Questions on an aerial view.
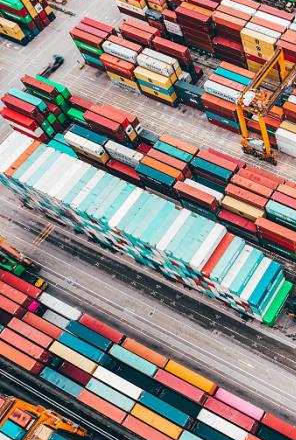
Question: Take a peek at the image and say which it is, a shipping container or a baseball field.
shipping container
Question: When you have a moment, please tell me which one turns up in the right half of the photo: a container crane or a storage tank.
container crane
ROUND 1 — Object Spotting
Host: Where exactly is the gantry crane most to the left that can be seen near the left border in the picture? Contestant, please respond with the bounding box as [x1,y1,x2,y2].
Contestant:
[0,389,98,440]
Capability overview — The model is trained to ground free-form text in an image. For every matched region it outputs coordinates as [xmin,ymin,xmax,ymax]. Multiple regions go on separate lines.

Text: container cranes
[231,45,296,165]
[0,389,98,440]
